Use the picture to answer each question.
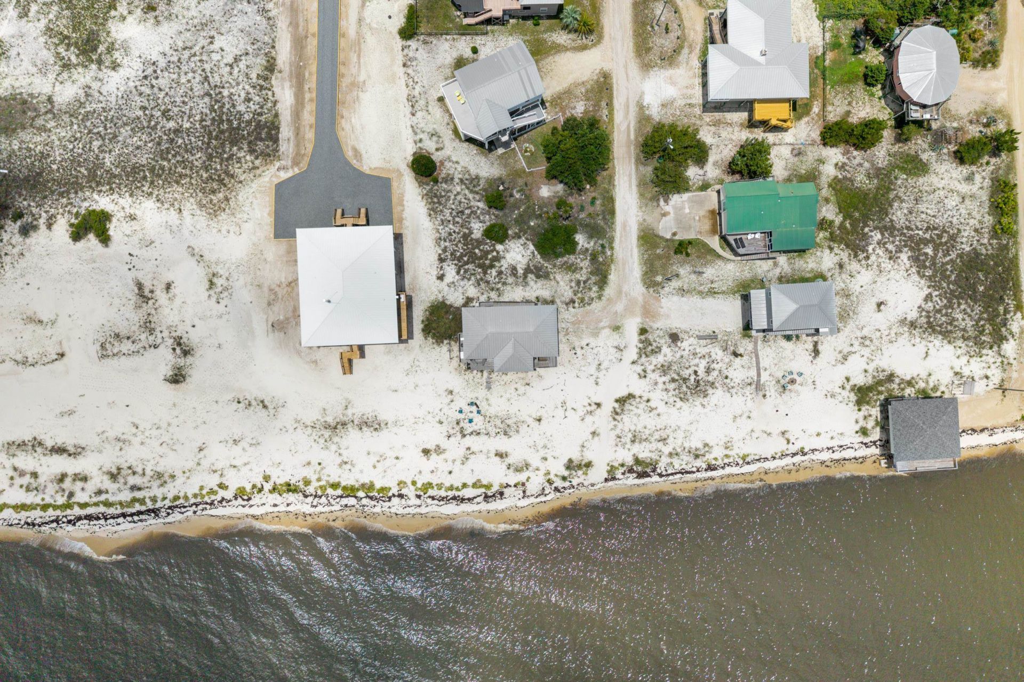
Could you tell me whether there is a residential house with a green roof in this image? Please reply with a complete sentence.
Yes, I can see a residential house with a green roof in this picture.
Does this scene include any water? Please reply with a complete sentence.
Yes, there is water in the image.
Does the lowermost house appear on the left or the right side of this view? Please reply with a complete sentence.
It is on the right.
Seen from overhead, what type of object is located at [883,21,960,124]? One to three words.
house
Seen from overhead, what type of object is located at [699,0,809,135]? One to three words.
house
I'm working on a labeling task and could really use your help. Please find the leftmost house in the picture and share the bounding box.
[296,206,411,375]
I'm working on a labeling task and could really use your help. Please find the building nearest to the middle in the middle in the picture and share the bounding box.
[459,301,558,372]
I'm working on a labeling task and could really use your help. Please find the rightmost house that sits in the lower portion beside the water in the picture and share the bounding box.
[880,397,962,473]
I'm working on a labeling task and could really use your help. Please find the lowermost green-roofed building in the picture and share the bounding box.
[717,173,818,262]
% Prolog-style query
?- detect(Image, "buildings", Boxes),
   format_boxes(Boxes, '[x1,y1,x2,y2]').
[699,0,809,135]
[440,41,546,145]
[717,173,818,262]
[883,21,960,124]
[880,397,962,473]
[456,0,564,27]
[296,206,411,375]
[742,281,837,336]
[459,301,558,372]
